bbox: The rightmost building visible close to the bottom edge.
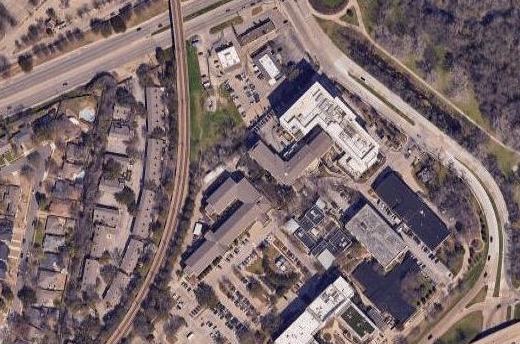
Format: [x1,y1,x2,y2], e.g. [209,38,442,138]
[274,277,379,344]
